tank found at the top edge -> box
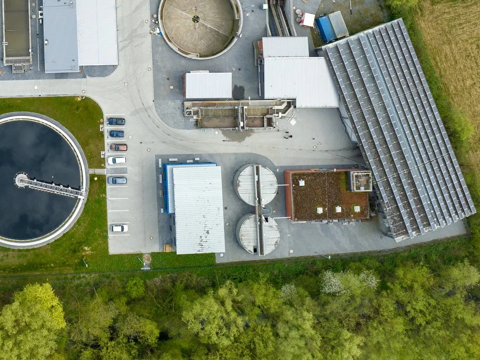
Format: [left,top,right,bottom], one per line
[158,0,243,59]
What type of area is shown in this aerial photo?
industrial area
